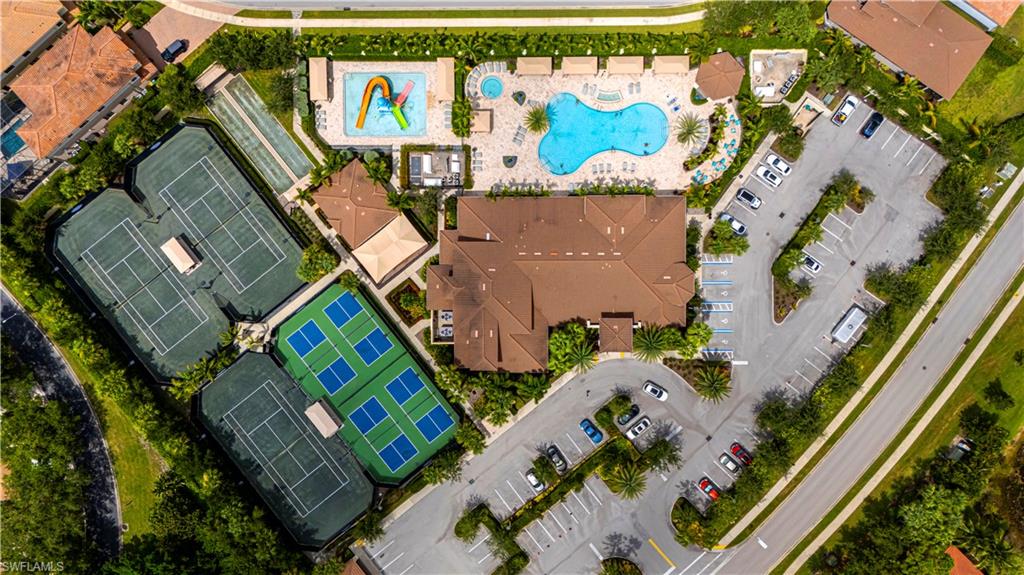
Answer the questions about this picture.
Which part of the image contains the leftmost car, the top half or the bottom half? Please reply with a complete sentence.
The top half of the photo is where the leftmost car is.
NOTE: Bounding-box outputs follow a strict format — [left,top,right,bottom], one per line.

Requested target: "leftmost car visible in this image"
[161,38,188,62]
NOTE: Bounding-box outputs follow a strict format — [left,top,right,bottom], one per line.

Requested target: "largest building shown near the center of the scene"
[426,194,694,372]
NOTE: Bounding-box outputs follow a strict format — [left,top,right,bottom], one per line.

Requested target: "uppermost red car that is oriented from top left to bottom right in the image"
[729,442,751,466]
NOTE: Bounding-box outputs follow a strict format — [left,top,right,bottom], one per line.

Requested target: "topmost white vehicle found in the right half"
[832,94,858,126]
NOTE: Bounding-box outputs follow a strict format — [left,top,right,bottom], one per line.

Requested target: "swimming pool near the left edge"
[0,115,29,162]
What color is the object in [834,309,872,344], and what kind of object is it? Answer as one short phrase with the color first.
white trailer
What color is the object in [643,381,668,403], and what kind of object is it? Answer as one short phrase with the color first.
white car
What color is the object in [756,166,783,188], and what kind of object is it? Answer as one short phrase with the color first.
white car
